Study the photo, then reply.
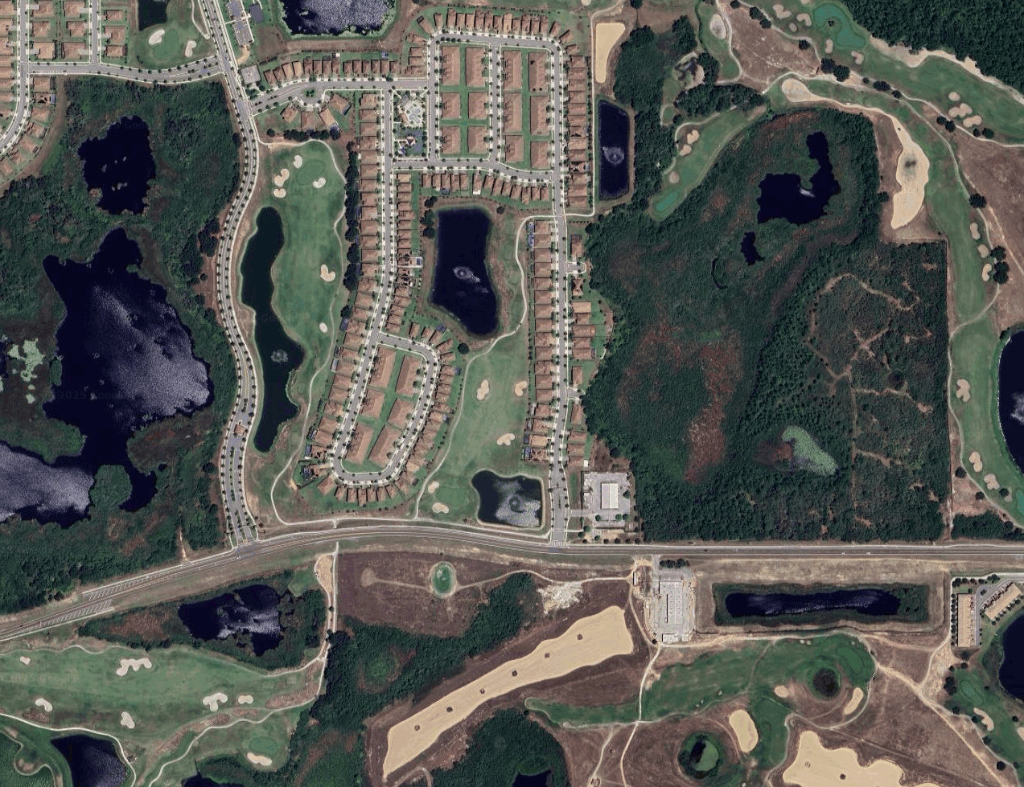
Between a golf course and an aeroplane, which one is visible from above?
golf course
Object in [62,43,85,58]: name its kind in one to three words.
house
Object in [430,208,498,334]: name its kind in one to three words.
pond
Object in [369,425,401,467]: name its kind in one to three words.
building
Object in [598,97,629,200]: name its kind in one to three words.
pond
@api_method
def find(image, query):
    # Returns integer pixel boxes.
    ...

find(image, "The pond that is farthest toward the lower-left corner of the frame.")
[50,735,127,787]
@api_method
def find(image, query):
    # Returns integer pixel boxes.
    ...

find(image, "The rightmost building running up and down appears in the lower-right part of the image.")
[958,594,971,648]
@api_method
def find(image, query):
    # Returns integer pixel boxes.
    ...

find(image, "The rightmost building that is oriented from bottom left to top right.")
[985,584,1022,621]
